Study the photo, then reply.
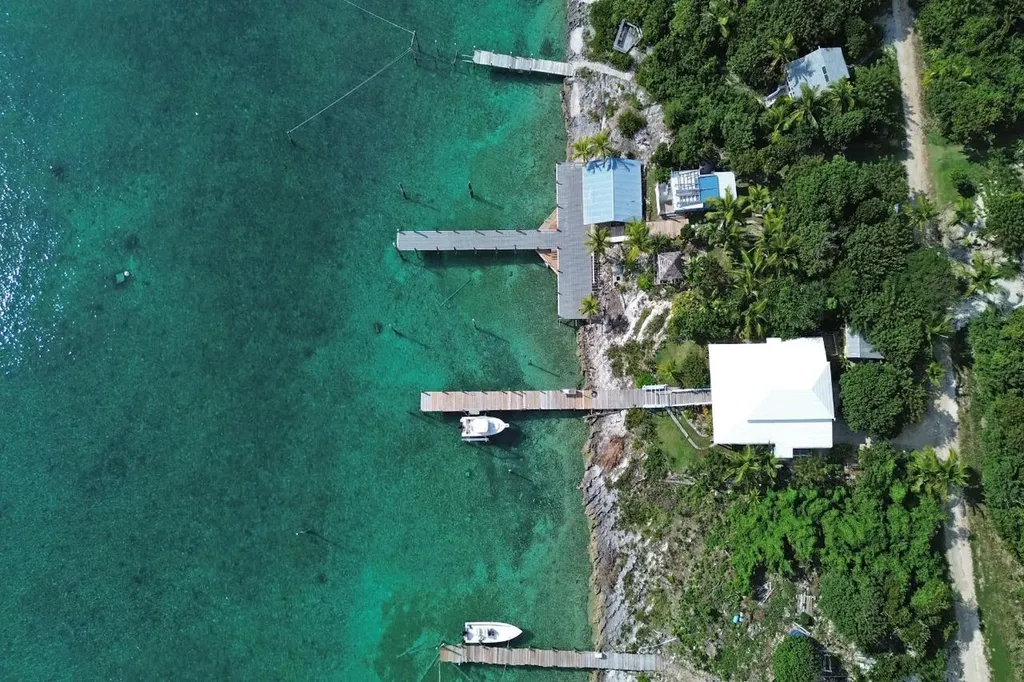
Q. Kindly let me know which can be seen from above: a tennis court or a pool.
pool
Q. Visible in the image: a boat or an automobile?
boat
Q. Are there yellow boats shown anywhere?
No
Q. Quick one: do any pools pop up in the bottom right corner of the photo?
No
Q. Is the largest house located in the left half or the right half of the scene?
right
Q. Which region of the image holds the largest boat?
bottom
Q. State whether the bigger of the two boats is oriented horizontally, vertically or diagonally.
horizontally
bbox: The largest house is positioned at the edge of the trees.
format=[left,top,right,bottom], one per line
[708,336,837,460]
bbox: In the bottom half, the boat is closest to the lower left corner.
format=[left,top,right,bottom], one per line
[459,621,522,644]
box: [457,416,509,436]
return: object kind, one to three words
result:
boat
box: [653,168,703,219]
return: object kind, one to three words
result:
building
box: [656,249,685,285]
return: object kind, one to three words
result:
shed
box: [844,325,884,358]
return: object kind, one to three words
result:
shed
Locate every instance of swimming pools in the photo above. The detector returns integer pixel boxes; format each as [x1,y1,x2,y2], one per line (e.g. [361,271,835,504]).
[696,172,737,215]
